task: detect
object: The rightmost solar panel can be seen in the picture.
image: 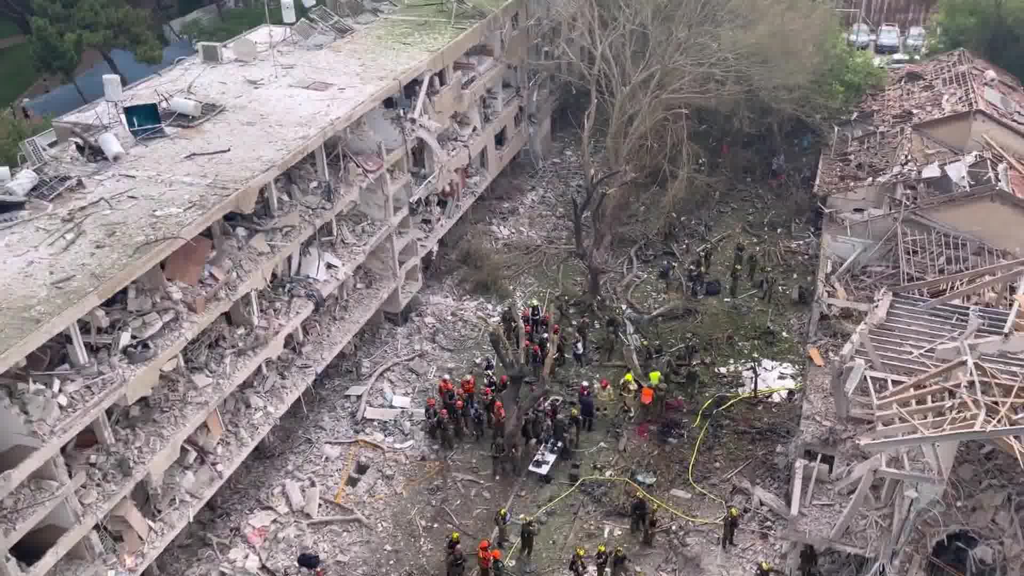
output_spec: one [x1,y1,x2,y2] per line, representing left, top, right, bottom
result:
[123,102,169,141]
